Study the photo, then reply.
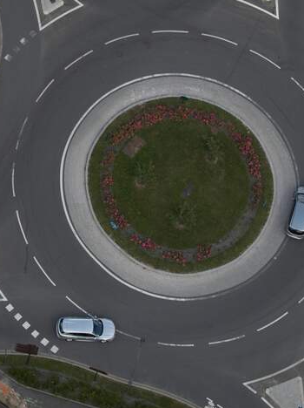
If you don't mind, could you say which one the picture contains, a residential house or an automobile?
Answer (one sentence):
Looking from above, you can make out an automobile.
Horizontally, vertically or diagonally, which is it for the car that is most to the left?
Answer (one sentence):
Seen from above, the car that is most to the left lies horizontally.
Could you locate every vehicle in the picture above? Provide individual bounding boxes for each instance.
[286,187,304,242]
[55,316,115,345]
